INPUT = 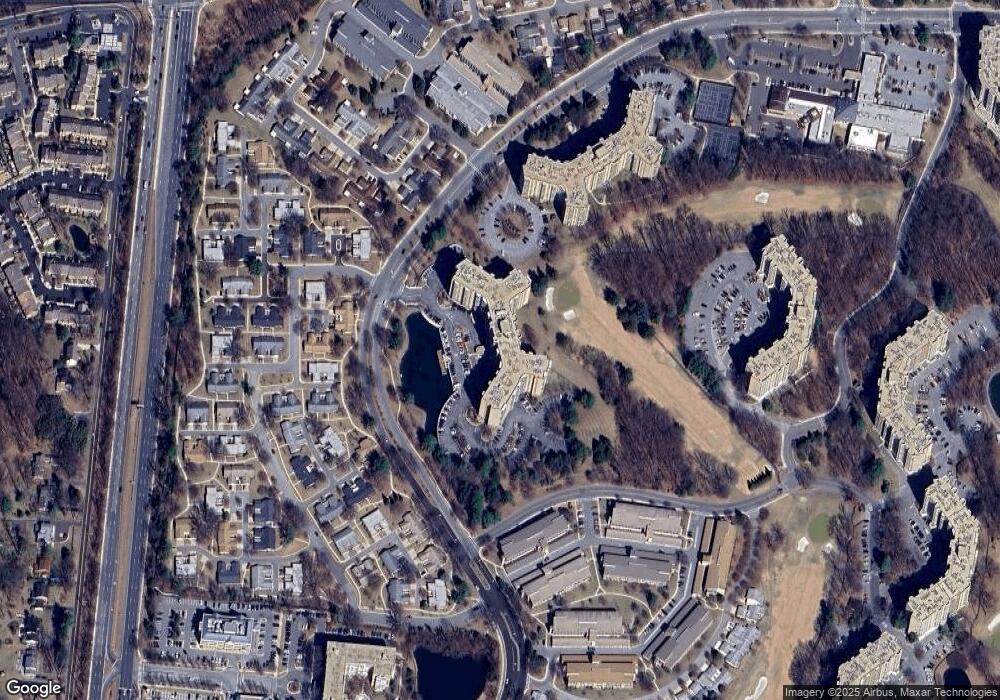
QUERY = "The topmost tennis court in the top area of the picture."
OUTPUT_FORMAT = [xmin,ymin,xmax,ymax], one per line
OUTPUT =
[695,79,735,126]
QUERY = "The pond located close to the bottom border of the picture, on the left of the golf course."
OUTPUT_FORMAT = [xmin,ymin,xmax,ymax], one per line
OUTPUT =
[414,644,494,700]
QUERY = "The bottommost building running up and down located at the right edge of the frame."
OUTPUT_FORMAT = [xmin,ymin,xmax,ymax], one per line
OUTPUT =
[903,476,981,642]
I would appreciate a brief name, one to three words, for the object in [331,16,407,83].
building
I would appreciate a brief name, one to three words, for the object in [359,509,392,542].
house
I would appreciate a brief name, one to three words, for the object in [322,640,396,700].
building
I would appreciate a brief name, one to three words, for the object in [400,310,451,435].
pond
